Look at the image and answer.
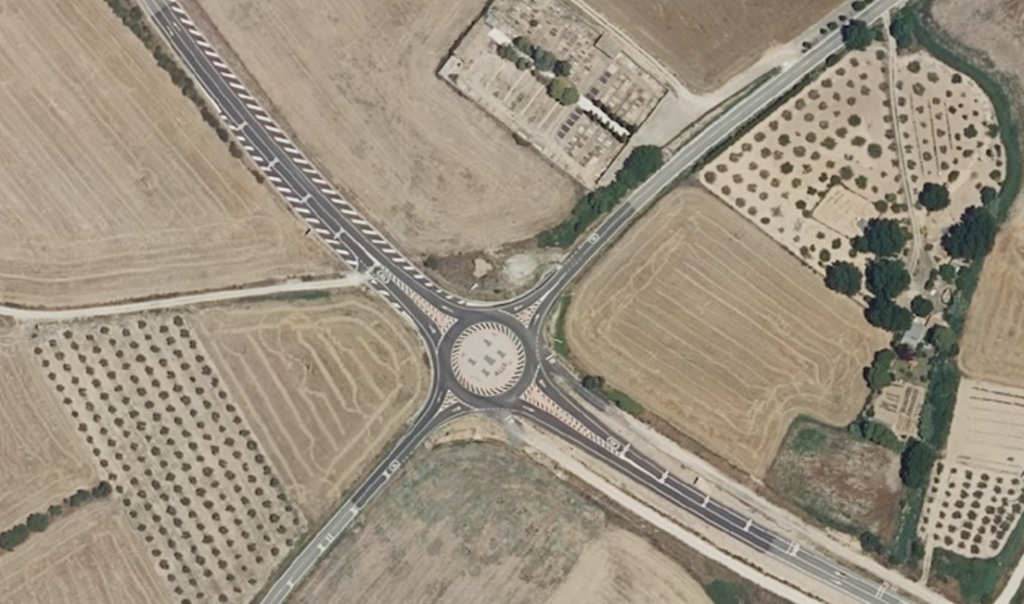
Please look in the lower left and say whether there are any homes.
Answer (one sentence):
No, no home is visible in the lower left.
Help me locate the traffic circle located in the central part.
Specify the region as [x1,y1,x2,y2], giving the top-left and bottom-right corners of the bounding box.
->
[383,267,619,455]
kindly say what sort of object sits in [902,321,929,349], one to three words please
house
